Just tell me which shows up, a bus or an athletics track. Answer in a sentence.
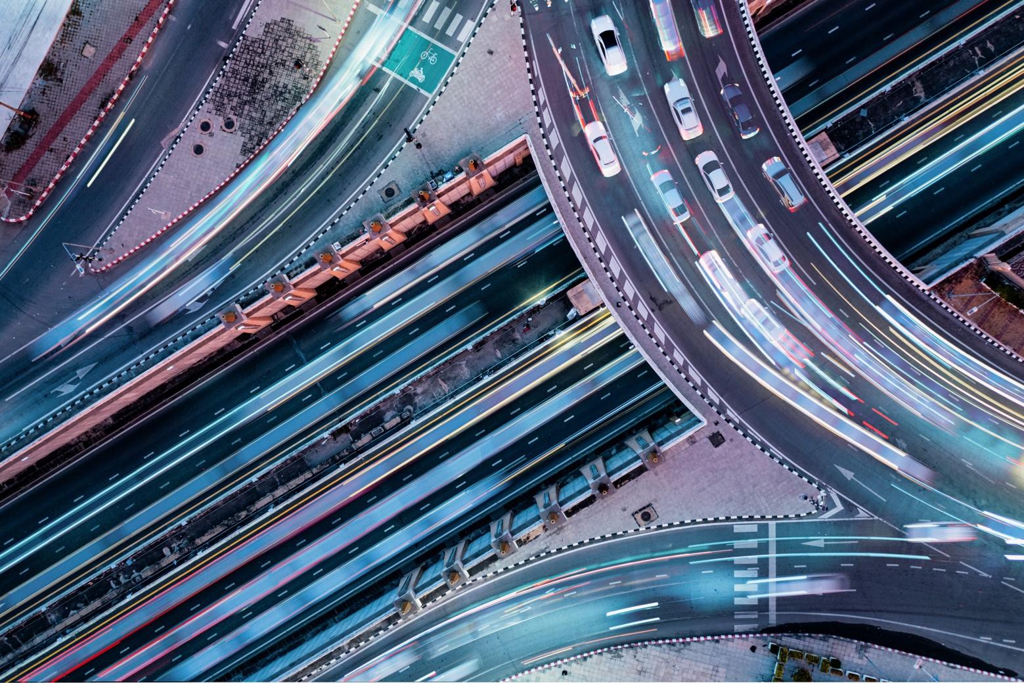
It is a bus that can be seen here.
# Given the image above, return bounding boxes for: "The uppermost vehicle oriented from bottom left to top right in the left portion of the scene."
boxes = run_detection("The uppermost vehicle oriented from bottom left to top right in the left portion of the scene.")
[345,0,423,78]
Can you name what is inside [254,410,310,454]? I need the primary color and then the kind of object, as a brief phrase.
blue car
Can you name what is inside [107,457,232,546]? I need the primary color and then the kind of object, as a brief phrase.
blue bus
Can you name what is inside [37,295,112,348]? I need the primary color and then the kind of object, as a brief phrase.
blue van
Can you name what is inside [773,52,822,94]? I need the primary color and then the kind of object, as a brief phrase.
blue truck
